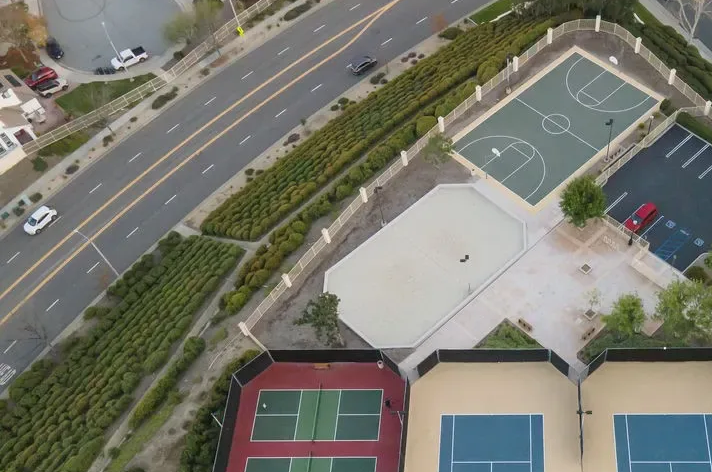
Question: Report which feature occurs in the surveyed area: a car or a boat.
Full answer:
The image shows a car.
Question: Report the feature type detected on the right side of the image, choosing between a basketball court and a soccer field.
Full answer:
What appears on the right side of the image is a basketball court.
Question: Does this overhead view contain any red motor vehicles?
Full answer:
Yes, you can see a red motor vehicle in this photo.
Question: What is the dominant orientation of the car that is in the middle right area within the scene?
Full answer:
In this picture, the car that is in the middle right area is oriented diagonally.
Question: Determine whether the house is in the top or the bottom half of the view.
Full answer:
The top half of the photo is where the house is.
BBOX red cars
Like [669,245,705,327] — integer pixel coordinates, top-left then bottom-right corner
[23,64,56,86]
[626,201,660,230]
